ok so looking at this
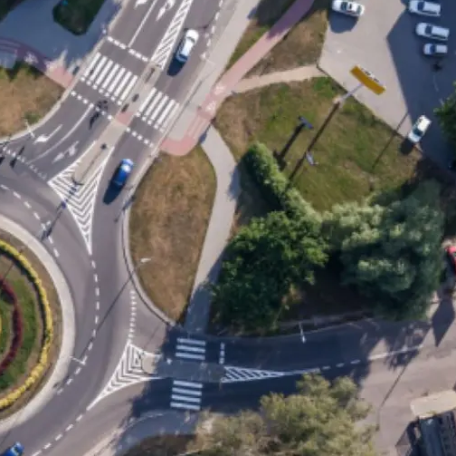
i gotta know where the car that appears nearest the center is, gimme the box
[110,156,132,188]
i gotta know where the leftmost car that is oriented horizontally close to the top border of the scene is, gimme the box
[332,0,365,19]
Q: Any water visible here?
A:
No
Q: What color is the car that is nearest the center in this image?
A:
blue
